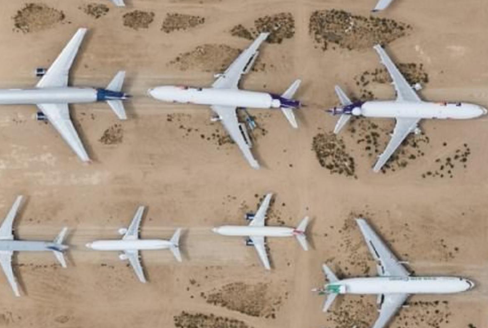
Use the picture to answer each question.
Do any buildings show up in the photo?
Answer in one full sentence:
No, the photo shows no building.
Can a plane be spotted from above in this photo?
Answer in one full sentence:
Yes, you can see a plane in this photo.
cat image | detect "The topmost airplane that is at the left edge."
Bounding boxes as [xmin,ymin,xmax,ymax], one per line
[0,28,130,167]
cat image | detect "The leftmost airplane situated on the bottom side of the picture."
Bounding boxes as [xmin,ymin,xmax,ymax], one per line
[0,195,68,294]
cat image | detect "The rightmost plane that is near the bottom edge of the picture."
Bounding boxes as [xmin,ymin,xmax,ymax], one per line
[315,219,475,328]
